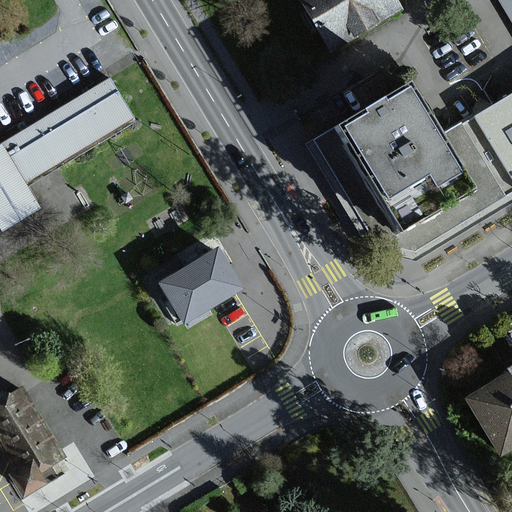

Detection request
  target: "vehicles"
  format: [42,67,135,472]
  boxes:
[86,407,108,426]
[106,439,128,458]
[222,307,244,324]
[42,78,58,100]
[458,38,482,56]
[284,182,301,202]
[438,52,460,68]
[61,382,82,400]
[90,10,112,26]
[232,150,250,172]
[343,88,361,112]
[17,90,36,114]
[422,32,438,46]
[237,327,258,343]
[294,212,312,236]
[4,96,23,119]
[98,20,120,36]
[444,63,468,81]
[217,298,238,314]
[61,61,80,84]
[72,55,92,78]
[410,388,426,410]
[28,82,45,102]
[362,308,398,325]
[432,42,453,60]
[452,98,470,118]
[468,50,488,66]
[392,352,415,372]
[86,51,103,72]
[70,396,90,414]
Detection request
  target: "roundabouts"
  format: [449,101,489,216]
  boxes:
[308,294,428,414]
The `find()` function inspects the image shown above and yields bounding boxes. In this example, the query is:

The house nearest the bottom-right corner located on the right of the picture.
[465,368,512,456]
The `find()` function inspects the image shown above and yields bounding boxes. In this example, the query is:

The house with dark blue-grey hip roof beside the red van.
[158,246,244,328]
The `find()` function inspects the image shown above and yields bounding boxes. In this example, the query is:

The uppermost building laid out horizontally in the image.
[302,0,418,52]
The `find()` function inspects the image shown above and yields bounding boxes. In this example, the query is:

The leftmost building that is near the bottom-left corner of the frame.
[0,386,67,499]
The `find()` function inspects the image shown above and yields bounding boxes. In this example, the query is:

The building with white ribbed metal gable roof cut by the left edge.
[0,142,41,232]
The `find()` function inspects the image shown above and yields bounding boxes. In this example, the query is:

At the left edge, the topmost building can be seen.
[0,77,136,184]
